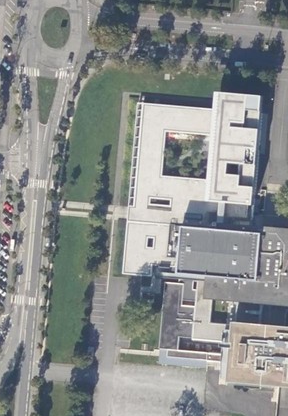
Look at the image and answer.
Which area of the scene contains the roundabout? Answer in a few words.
top left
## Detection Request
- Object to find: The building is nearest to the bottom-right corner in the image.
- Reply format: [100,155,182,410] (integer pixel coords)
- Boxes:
[226,322,288,391]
